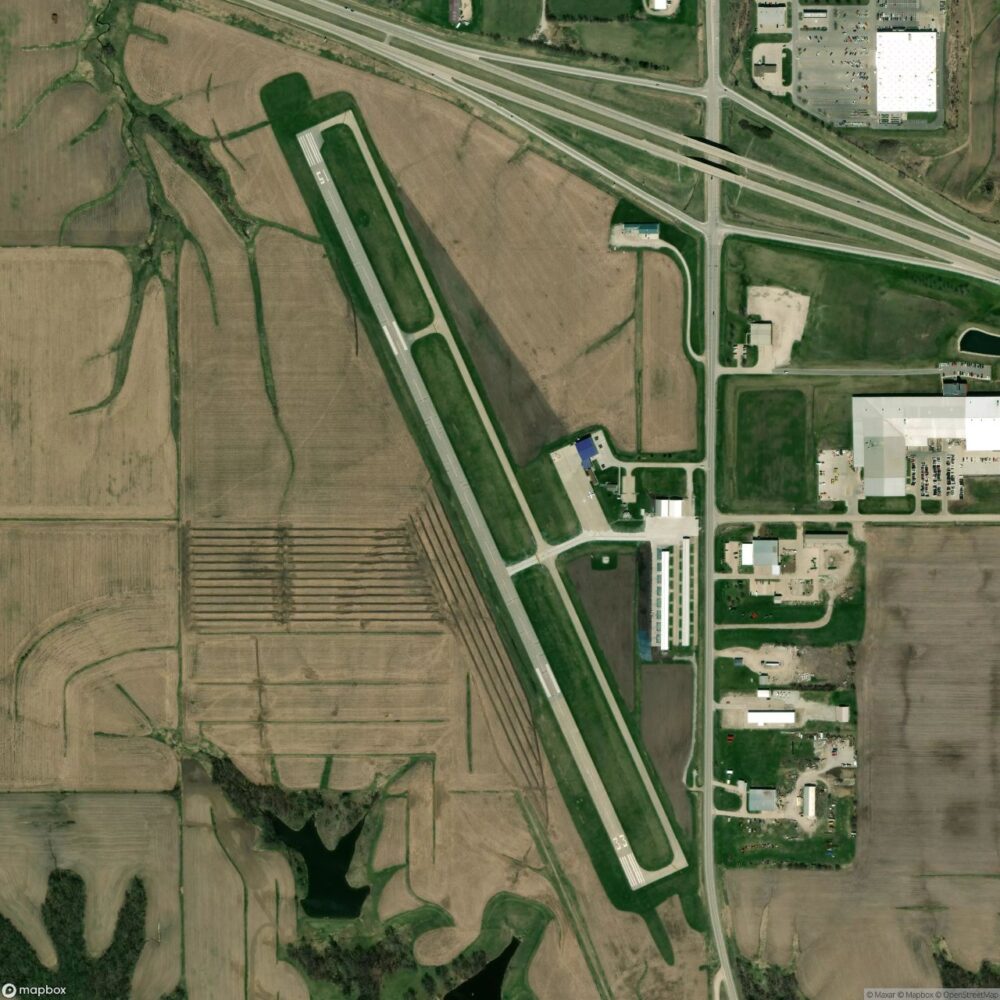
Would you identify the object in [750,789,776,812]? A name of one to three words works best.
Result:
barn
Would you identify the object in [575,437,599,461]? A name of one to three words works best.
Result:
hangar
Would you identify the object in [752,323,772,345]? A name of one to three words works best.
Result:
building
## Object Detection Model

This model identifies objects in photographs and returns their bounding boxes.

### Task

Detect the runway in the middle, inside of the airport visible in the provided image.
[296,129,646,890]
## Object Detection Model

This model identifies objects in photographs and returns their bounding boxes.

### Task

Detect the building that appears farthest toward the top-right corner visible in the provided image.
[876,31,937,111]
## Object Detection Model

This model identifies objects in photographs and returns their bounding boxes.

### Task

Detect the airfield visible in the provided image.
[296,110,698,890]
